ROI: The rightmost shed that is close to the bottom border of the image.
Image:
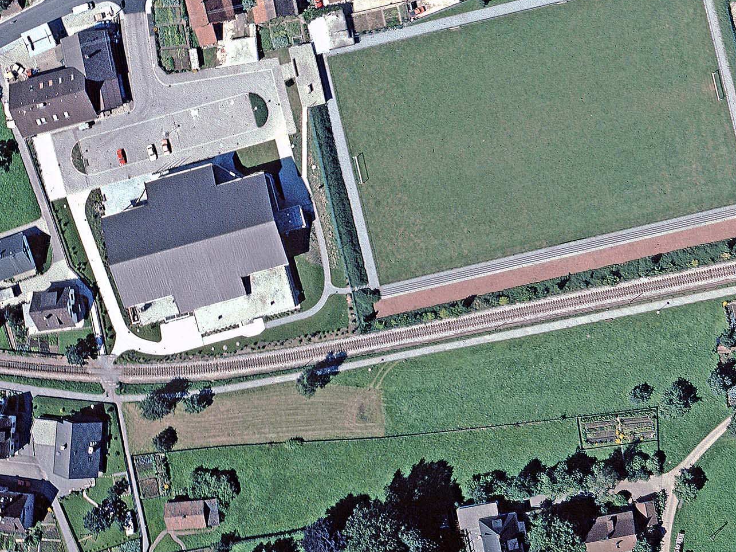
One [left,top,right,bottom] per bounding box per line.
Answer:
[635,500,658,530]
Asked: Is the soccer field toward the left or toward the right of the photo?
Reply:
right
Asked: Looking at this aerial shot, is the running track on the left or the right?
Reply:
right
